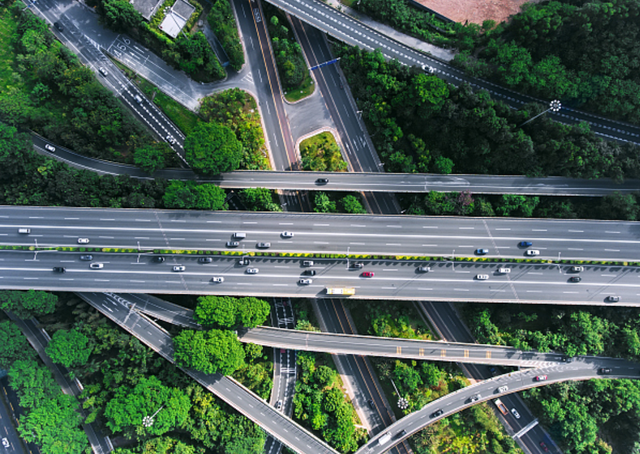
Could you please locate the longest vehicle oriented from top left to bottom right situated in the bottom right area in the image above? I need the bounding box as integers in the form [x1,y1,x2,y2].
[494,398,509,416]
